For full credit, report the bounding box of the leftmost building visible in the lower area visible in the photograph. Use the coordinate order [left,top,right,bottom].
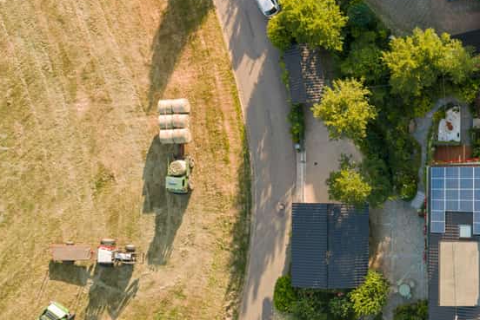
[291,203,373,289]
